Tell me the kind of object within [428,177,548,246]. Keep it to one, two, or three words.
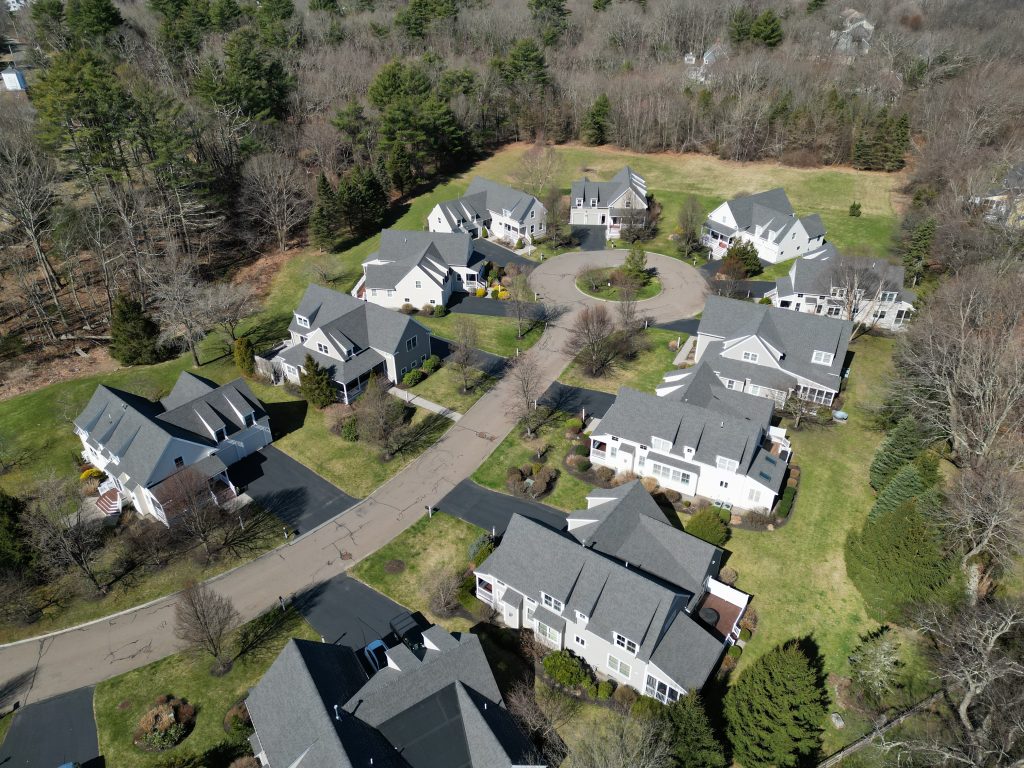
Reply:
house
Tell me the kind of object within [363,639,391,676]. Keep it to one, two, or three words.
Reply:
car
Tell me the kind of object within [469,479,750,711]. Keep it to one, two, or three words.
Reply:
house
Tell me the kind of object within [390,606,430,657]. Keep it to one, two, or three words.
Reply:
car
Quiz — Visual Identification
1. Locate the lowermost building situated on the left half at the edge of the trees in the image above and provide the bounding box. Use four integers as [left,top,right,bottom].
[245,630,556,768]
